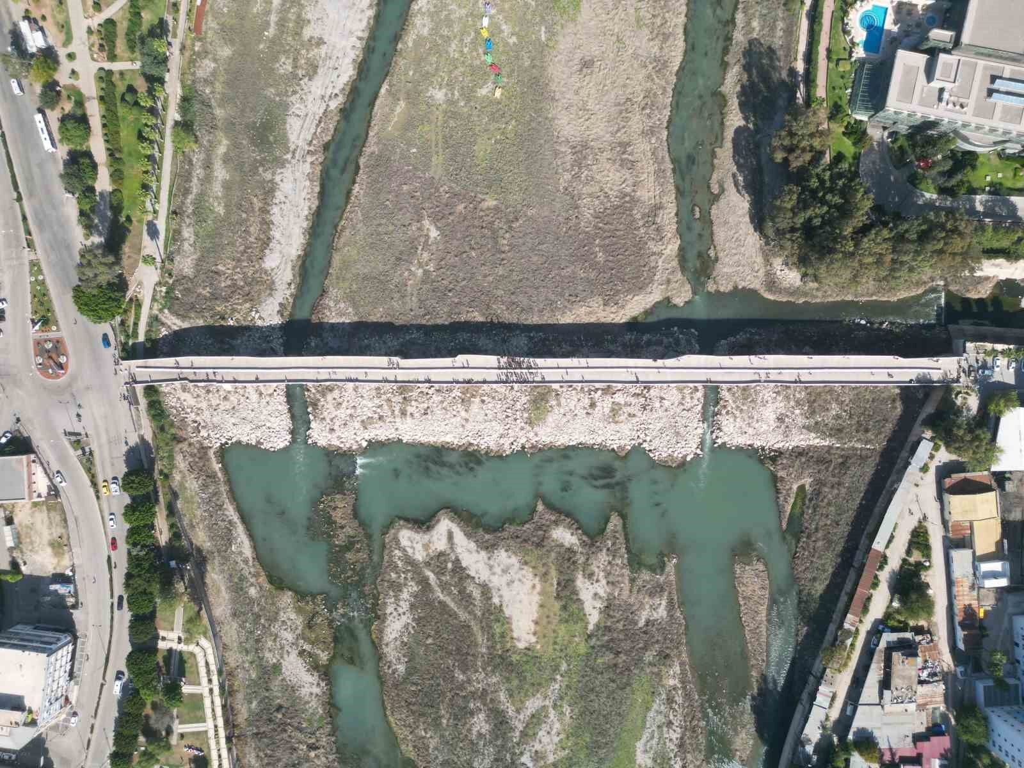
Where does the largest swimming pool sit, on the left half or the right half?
right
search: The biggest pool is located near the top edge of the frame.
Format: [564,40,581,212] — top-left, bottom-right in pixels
[857,3,890,56]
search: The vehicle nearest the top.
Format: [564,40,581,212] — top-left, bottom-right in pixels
[7,77,23,96]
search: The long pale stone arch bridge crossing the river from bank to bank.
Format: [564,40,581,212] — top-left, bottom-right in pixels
[122,355,960,385]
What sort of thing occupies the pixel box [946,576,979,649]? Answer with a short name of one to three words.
house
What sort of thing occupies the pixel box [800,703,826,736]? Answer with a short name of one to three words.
shed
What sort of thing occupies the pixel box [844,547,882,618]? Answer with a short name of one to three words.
shed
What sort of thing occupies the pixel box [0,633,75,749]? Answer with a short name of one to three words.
building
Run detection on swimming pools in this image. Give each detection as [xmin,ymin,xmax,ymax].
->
[857,3,890,56]
[924,14,937,27]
